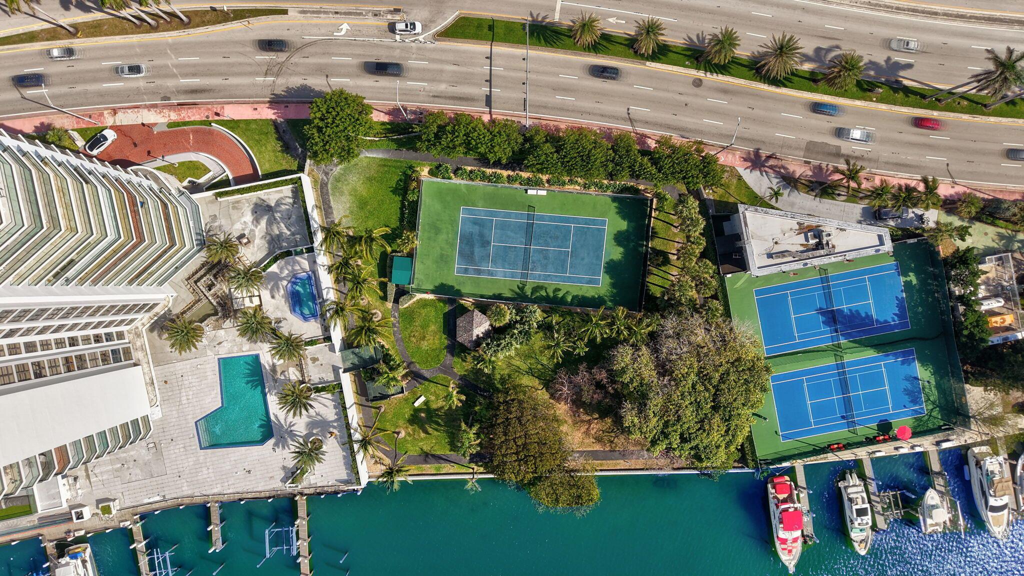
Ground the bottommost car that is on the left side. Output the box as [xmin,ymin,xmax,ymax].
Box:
[88,128,117,156]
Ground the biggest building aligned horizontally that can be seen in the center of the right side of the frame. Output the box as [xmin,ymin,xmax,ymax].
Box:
[731,204,893,276]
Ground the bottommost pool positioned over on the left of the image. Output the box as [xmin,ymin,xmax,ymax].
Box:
[195,354,274,450]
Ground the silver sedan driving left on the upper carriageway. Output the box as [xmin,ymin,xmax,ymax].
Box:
[889,37,919,53]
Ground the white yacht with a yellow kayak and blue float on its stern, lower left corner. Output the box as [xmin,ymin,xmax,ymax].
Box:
[61,540,101,576]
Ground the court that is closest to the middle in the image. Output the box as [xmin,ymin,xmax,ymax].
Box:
[411,179,653,311]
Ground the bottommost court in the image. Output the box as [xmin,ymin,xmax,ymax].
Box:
[742,336,970,463]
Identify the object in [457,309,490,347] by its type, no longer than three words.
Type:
gazebo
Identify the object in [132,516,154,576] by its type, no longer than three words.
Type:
pier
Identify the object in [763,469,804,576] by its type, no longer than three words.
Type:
boat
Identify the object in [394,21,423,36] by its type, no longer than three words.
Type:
car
